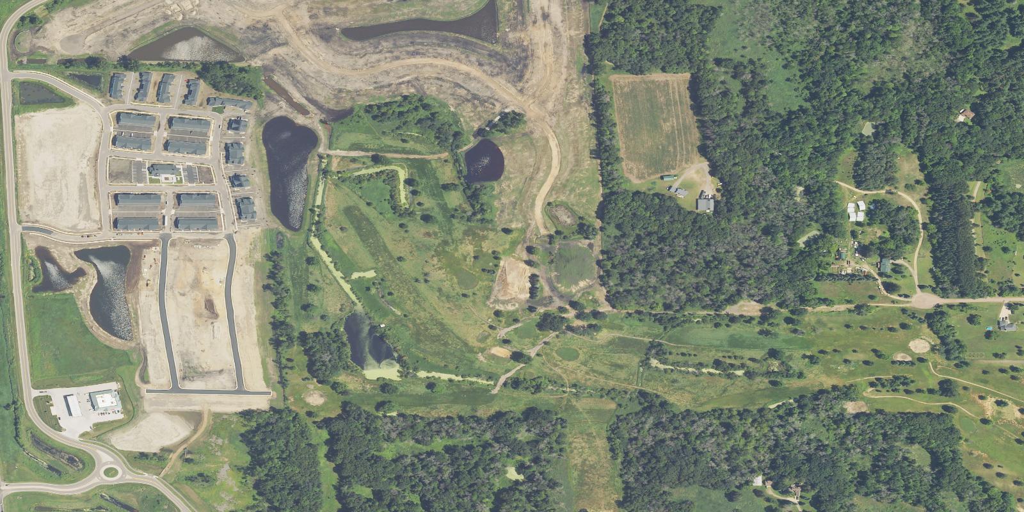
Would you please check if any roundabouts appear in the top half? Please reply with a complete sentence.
No, there's no roundabout to be seen in the top half.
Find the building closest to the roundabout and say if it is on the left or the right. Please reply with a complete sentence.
The building closest to the roundabout appears in the left half of the scene.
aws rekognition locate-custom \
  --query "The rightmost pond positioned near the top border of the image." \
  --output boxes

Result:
[342,0,498,43]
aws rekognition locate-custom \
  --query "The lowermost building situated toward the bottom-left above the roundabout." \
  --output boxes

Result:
[91,389,121,411]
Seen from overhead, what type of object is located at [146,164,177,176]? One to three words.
building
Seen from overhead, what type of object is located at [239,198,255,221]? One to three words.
house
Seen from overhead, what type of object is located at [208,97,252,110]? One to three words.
house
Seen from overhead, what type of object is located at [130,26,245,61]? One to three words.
pond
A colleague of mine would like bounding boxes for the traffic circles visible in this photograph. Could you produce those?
[81,446,135,489]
